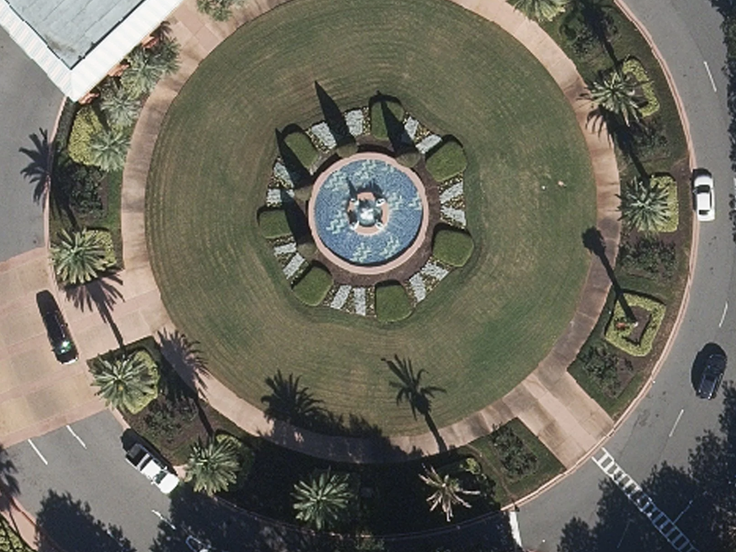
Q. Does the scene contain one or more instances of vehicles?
Yes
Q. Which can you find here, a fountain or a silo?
fountain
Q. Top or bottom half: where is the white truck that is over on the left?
bottom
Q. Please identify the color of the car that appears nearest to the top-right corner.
white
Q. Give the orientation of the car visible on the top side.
vertically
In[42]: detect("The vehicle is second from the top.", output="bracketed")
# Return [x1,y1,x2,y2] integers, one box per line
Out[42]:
[40,311,78,365]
